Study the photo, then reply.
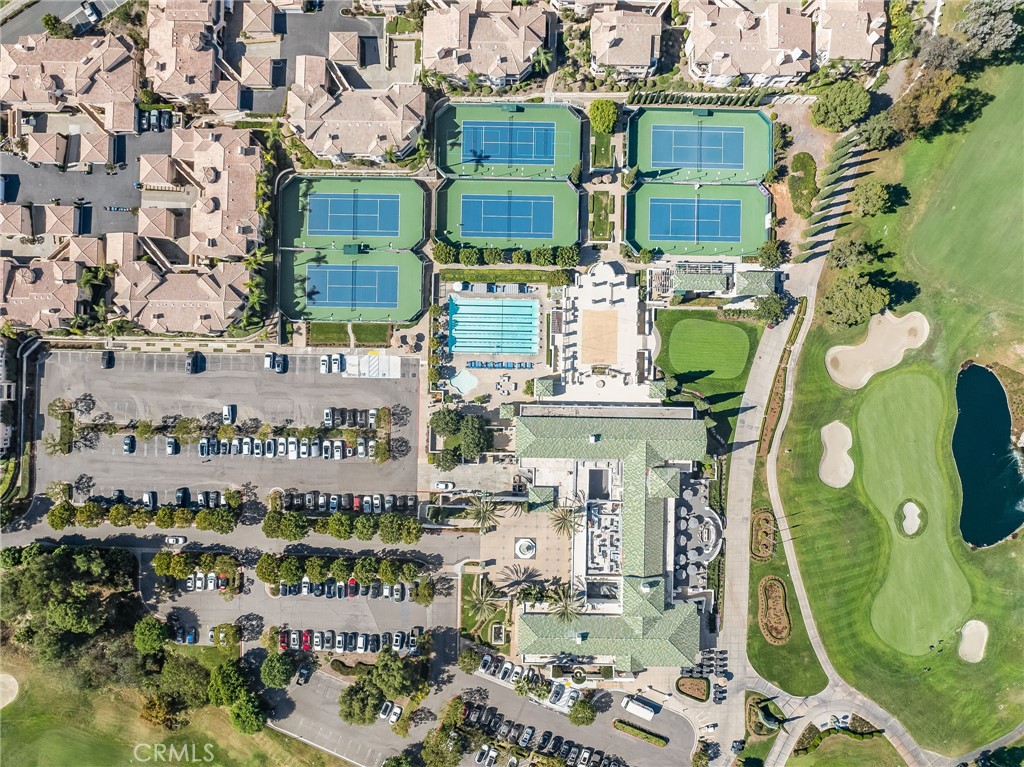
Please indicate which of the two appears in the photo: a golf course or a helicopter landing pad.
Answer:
golf course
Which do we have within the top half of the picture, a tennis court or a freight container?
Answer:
tennis court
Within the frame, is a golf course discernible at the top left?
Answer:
No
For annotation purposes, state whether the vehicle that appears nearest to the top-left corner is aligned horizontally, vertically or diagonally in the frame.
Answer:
diagonally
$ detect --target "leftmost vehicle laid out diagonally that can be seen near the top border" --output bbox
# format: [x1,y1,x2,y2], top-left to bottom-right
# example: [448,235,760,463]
[80,1,100,25]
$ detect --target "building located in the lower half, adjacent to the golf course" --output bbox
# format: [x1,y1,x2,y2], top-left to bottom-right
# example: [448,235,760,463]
[516,404,709,675]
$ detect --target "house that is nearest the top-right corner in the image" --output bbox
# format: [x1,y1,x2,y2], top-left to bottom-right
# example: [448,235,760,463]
[812,0,886,79]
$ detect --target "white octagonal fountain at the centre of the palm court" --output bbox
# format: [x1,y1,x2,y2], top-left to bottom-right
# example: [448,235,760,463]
[516,539,535,558]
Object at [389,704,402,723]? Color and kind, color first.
white vehicle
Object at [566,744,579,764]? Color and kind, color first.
gray vehicle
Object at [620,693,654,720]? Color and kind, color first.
white vehicle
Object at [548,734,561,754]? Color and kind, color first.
black vehicle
